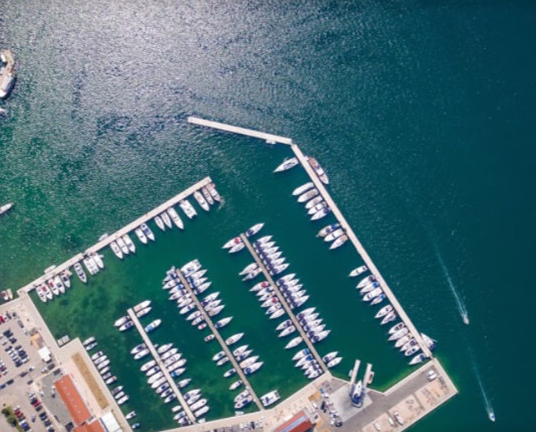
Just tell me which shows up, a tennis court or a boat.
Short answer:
boat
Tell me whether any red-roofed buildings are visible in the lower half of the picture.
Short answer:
Yes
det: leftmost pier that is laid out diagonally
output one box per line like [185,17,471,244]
[19,252,85,296]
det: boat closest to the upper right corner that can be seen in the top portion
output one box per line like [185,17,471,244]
[306,154,329,183]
